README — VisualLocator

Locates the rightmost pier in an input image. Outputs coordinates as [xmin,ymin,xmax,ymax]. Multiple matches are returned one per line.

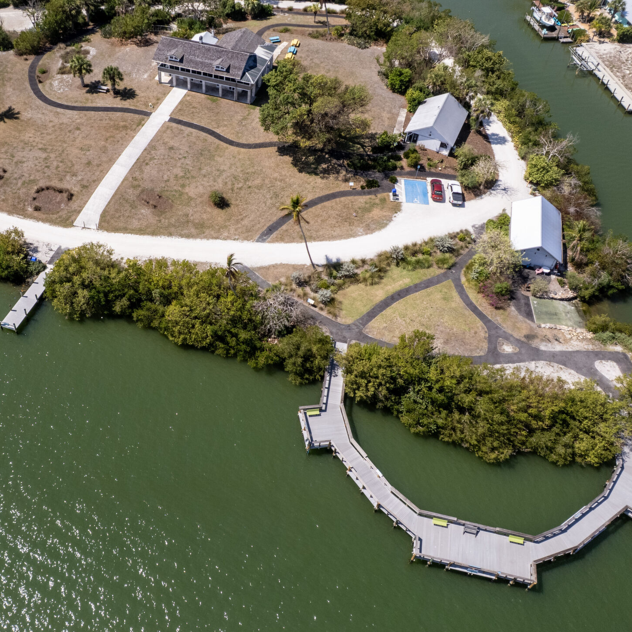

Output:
[574,46,632,114]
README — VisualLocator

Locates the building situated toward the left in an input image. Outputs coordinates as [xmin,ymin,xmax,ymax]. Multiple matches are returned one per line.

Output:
[151,27,283,106]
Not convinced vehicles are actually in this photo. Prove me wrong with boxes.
[430,180,444,200]
[448,180,465,204]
